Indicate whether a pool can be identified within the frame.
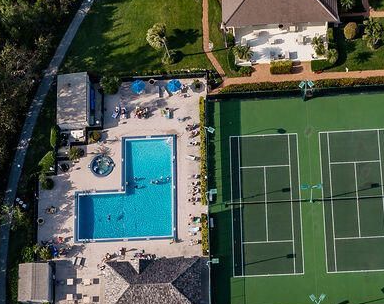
Yes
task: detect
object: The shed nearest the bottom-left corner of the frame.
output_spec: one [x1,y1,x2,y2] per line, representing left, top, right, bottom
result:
[18,262,55,302]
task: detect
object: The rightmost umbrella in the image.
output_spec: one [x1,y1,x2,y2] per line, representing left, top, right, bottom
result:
[167,79,182,94]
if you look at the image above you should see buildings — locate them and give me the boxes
[18,262,55,302]
[222,0,339,33]
[105,257,211,304]
[57,73,104,146]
